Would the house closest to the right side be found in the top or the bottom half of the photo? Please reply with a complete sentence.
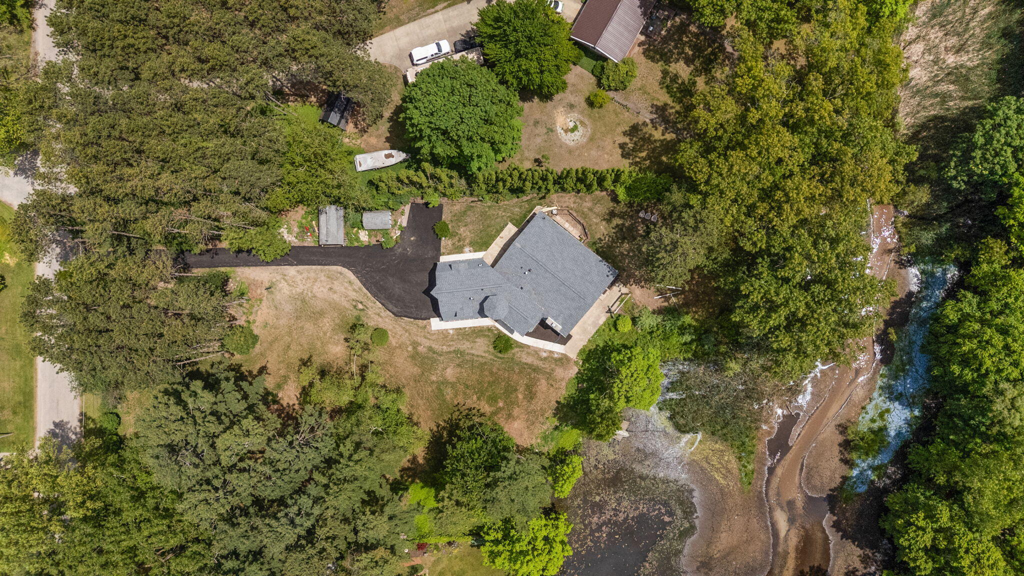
The house closest to the right side sits in the top half of the picture.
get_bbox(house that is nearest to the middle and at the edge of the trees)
[433,210,619,339]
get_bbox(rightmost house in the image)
[570,0,657,64]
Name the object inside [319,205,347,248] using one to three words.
shed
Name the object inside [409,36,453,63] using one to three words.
truck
